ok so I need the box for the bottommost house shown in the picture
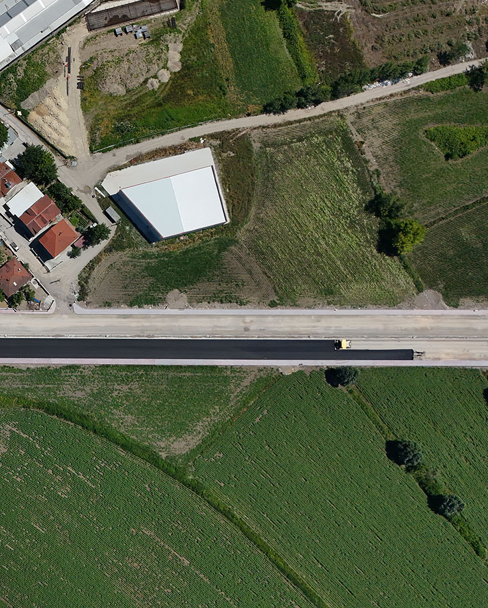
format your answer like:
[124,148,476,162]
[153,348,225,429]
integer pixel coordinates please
[0,257,32,299]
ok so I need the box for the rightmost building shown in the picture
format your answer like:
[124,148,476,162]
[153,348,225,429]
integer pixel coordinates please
[118,166,226,239]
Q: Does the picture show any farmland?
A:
Yes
